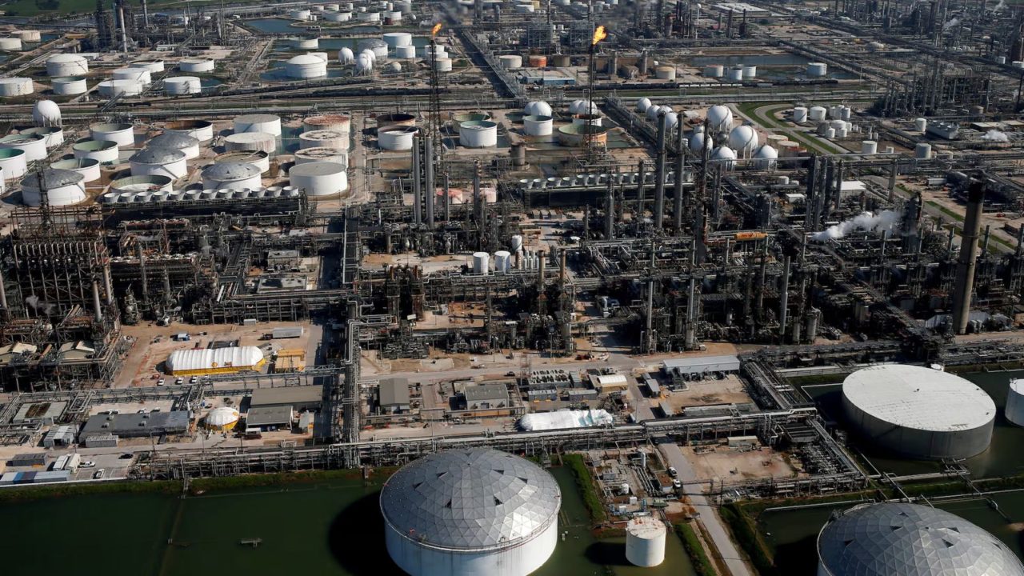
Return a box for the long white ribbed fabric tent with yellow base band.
[168,346,272,375]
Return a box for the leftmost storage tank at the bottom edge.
[377,450,564,576]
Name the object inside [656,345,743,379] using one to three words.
building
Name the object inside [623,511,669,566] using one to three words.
storage tank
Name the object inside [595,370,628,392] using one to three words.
building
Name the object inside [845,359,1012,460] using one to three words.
storage tank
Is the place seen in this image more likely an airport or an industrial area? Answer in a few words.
industrial area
